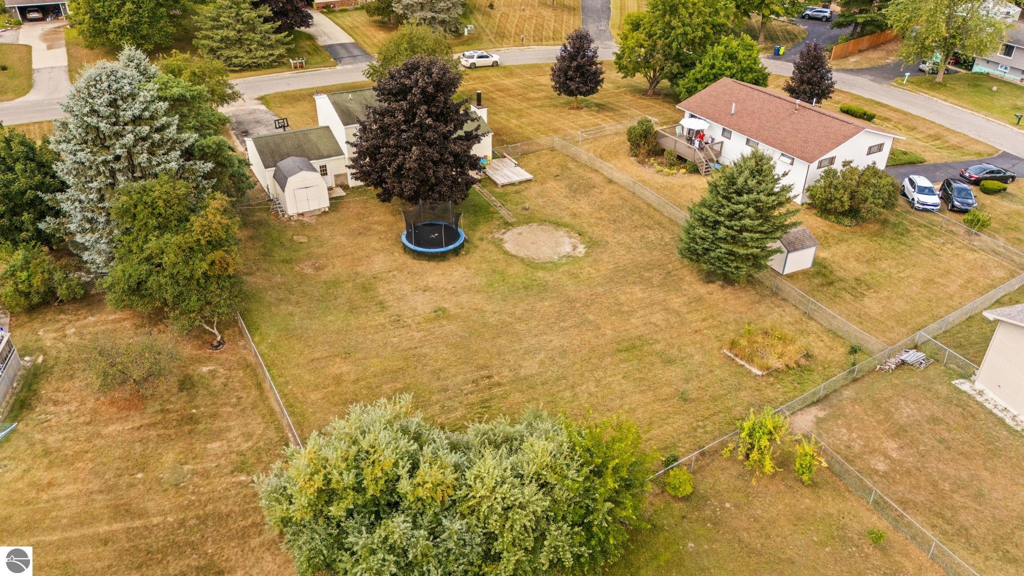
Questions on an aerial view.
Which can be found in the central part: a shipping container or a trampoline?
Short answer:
trampoline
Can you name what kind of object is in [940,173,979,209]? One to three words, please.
car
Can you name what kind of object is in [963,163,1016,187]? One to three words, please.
car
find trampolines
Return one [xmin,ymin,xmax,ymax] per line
[397,198,465,256]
